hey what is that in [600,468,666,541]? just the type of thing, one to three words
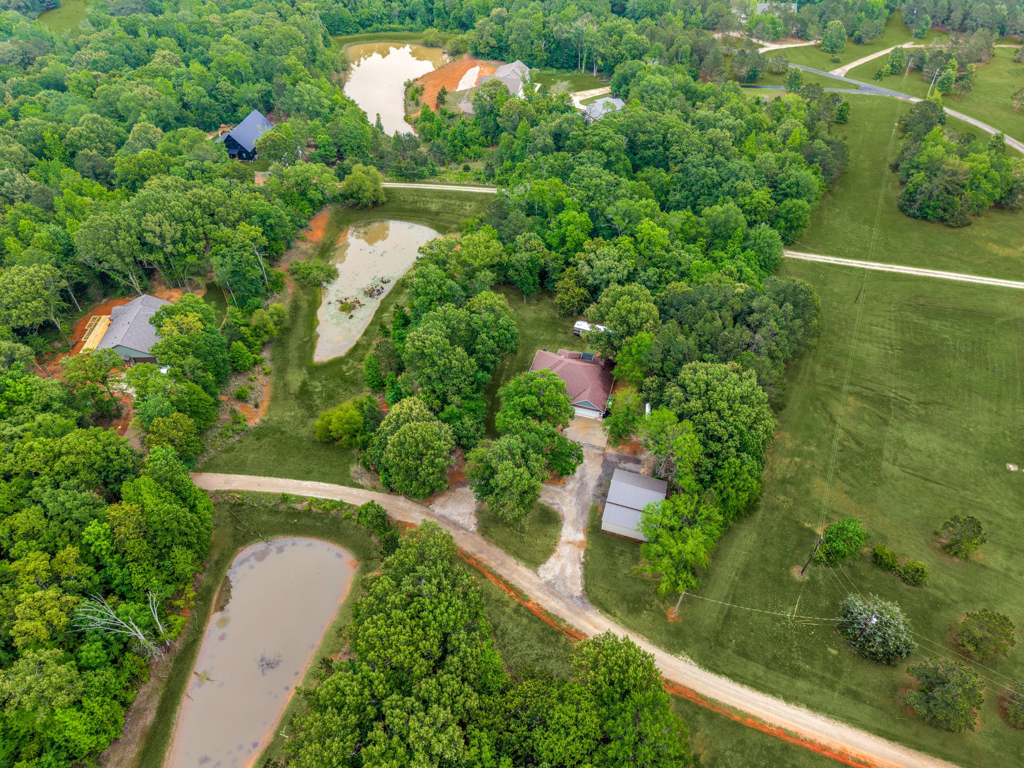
shed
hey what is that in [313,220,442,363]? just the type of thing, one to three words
pond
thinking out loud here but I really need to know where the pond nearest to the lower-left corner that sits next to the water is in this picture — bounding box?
[162,535,358,768]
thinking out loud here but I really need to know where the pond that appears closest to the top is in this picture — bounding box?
[345,42,450,145]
